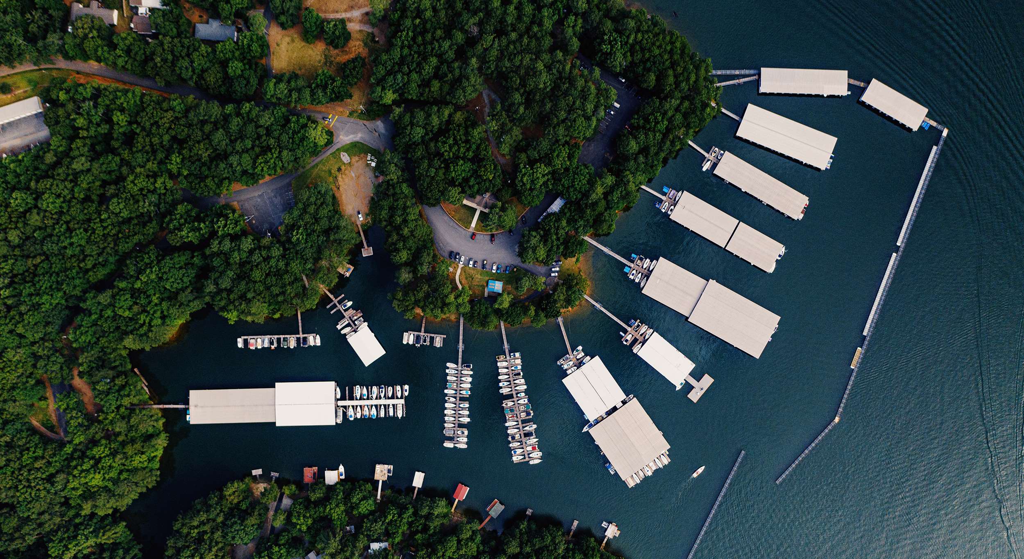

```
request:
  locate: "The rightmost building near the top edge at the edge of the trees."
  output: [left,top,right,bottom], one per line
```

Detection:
[194,18,238,42]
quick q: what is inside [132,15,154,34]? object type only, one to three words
house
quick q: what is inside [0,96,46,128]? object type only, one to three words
building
